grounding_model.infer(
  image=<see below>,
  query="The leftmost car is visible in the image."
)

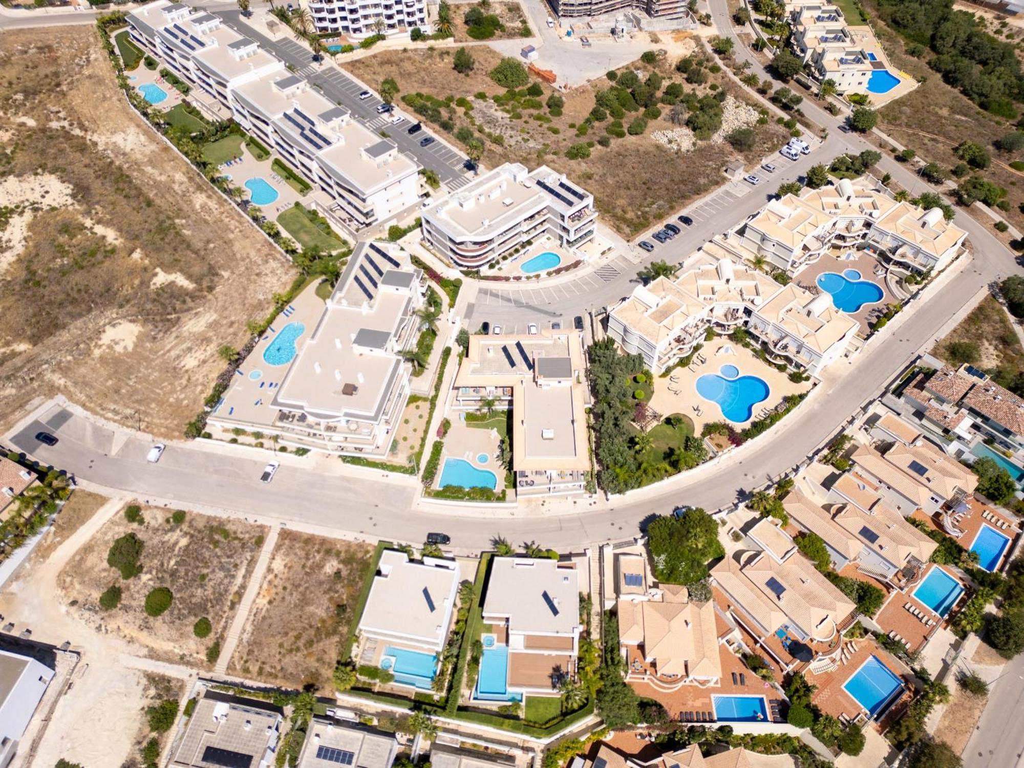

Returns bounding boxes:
[36,432,57,445]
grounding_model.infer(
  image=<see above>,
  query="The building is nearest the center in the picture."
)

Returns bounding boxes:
[454,331,590,495]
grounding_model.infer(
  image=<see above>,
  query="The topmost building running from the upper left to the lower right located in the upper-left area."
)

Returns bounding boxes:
[124,0,425,236]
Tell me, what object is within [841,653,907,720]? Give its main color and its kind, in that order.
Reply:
blue swimming pool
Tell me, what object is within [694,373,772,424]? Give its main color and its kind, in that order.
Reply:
blue swimming pool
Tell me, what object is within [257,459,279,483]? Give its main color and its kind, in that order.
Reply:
white truck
